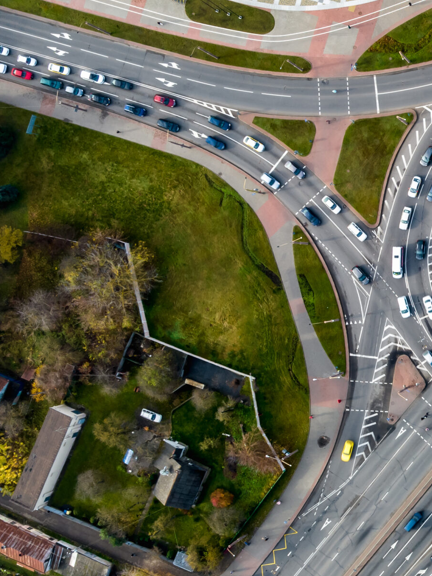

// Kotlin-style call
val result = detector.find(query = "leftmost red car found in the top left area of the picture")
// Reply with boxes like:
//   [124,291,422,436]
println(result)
[11,67,35,81]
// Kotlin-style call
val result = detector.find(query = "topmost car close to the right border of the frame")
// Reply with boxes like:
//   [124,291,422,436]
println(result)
[419,145,432,166]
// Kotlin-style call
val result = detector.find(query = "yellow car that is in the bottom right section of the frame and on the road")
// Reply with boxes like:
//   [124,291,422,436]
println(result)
[341,439,354,462]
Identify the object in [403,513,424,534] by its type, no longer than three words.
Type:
car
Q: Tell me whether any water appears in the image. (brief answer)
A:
No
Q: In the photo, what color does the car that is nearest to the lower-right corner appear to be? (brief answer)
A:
blue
